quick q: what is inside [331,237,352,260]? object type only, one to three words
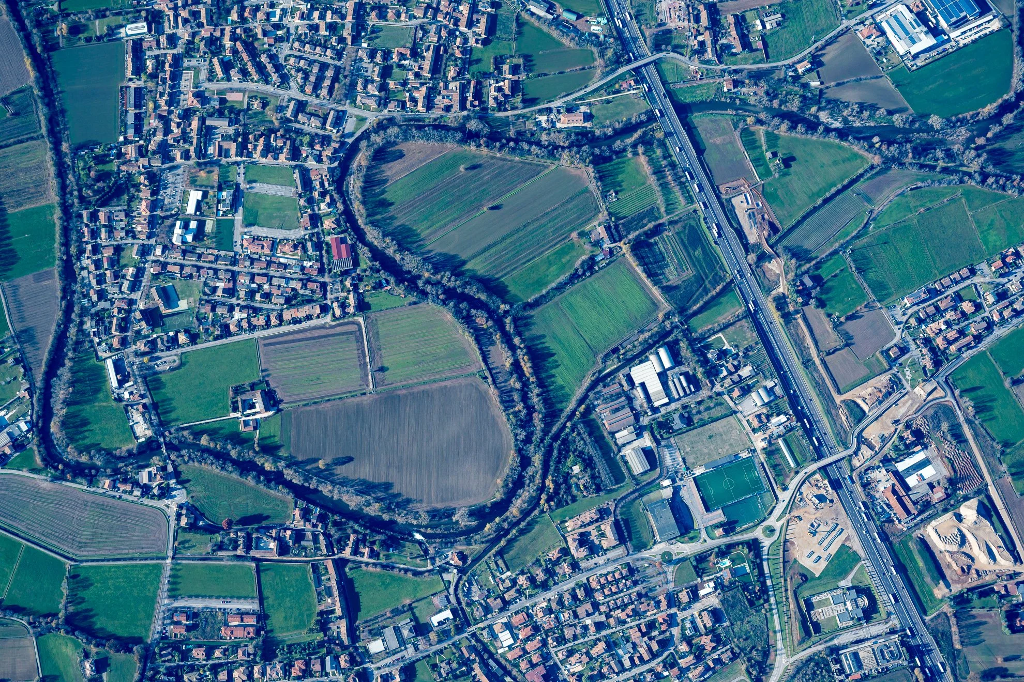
building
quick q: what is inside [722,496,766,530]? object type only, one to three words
soccer field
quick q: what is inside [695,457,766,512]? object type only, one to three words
soccer field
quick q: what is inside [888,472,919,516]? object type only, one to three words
shed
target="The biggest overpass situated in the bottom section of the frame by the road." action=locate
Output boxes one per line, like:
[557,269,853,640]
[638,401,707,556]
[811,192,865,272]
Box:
[787,379,922,493]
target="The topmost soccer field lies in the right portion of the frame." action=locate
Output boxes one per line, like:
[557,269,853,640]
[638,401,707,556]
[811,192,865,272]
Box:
[672,417,753,471]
